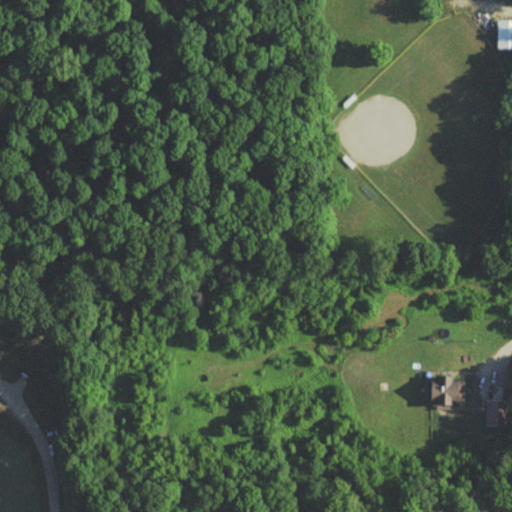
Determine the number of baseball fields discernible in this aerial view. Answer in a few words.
one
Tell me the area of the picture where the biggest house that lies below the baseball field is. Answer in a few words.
bottom right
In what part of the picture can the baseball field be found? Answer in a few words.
top right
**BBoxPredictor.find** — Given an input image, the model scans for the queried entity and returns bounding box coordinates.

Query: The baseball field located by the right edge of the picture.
[338,17,506,249]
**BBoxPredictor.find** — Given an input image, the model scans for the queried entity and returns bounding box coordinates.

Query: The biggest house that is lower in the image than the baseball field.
[432,376,466,408]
